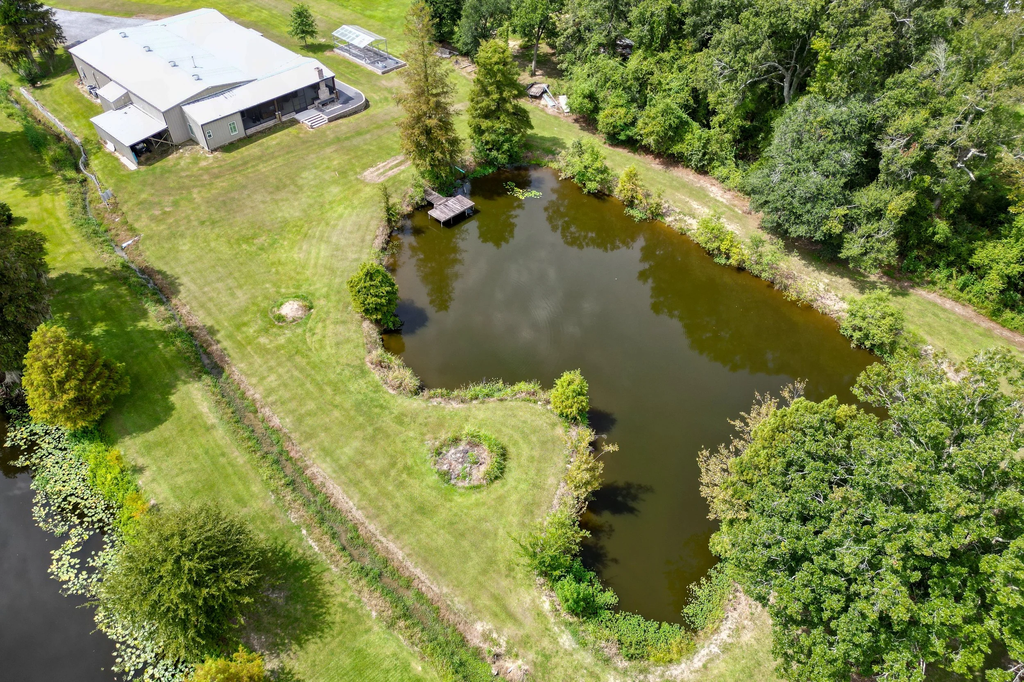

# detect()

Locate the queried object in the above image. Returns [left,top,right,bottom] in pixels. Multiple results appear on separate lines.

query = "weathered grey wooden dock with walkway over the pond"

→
[411,185,475,230]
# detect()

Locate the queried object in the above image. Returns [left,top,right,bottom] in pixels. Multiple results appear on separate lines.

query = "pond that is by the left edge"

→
[0,399,187,682]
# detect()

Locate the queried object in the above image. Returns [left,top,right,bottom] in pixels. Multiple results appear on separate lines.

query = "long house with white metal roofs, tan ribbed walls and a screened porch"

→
[65,7,339,166]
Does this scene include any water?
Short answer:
Yes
